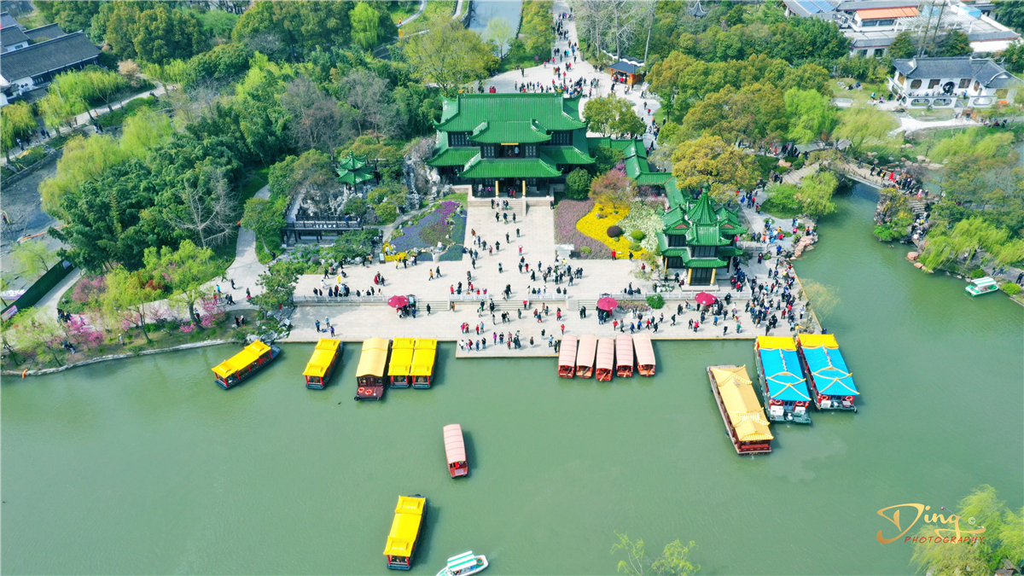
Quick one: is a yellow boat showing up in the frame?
Yes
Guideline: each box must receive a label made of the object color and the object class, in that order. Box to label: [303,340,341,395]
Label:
yellow boat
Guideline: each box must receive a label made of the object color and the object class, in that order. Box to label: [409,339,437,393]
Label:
yellow boat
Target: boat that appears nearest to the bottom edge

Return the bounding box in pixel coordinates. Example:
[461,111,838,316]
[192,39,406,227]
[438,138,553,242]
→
[438,544,494,576]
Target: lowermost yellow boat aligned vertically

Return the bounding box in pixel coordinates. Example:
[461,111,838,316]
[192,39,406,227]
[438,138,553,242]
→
[381,493,427,575]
